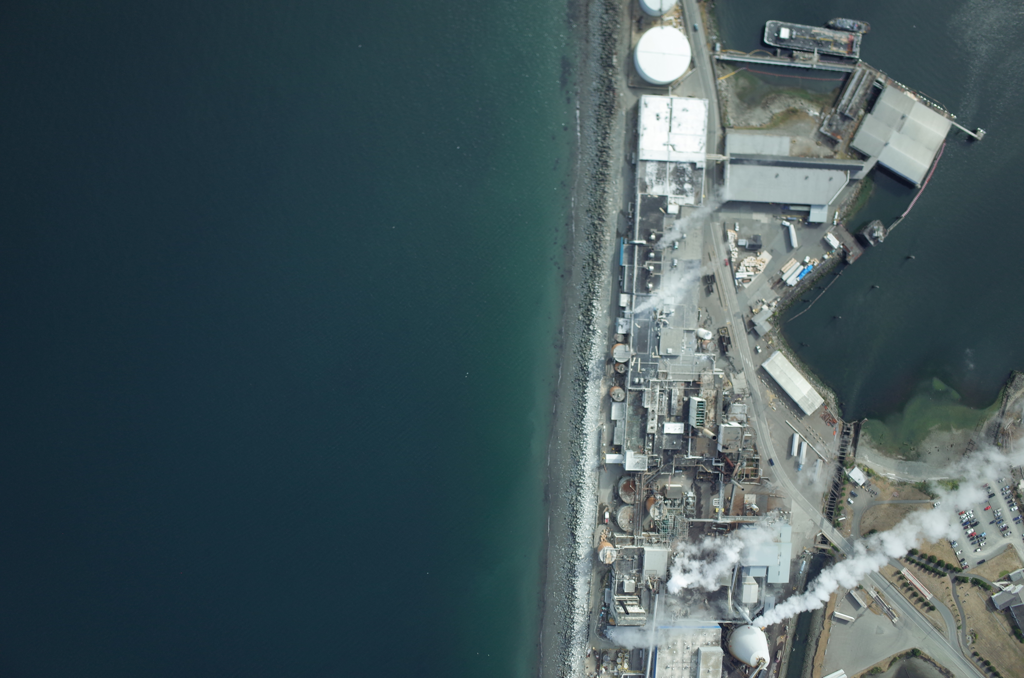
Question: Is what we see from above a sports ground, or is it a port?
port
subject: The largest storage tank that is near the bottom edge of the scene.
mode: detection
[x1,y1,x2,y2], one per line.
[728,623,770,670]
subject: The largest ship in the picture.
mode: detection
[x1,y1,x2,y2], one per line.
[763,19,862,59]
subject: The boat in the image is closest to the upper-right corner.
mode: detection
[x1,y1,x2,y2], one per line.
[826,18,870,34]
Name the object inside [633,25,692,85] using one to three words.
storage tank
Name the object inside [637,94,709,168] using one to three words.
building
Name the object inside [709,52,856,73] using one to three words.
pier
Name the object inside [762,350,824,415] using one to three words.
shed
